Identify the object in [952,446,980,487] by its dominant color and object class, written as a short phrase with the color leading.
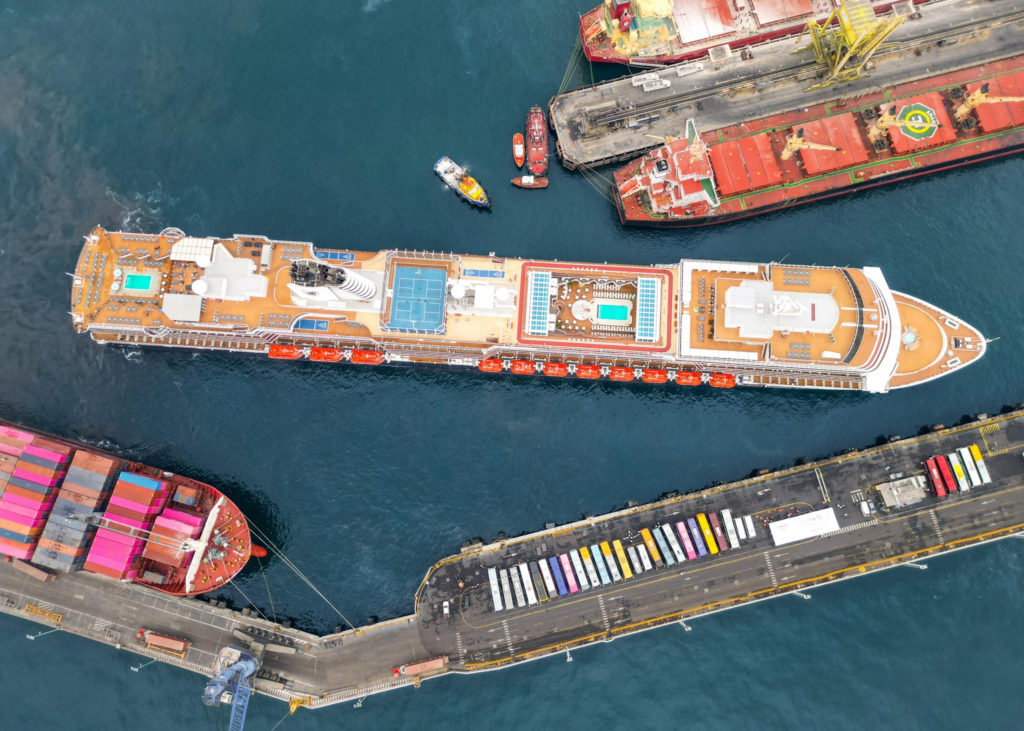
white bus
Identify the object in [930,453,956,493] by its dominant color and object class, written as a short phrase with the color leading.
red bus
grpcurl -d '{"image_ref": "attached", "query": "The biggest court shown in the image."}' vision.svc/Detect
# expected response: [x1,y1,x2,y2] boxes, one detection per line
[390,264,447,331]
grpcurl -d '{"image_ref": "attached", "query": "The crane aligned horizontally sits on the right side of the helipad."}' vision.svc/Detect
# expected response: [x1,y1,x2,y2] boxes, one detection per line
[946,94,1024,124]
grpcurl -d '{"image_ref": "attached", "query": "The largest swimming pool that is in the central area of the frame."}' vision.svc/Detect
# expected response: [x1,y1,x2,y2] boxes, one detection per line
[589,298,633,326]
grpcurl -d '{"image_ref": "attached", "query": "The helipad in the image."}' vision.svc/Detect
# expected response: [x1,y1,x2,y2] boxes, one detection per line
[897,100,939,143]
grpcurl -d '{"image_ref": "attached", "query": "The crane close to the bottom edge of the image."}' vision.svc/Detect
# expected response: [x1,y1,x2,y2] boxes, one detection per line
[201,626,307,731]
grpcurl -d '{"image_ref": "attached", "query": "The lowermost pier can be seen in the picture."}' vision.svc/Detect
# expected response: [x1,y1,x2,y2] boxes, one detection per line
[0,409,1024,709]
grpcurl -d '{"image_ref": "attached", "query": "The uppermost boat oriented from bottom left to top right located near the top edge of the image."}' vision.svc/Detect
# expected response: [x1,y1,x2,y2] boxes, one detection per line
[578,14,609,47]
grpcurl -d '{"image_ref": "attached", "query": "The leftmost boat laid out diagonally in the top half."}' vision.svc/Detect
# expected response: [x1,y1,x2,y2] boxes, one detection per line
[430,152,493,209]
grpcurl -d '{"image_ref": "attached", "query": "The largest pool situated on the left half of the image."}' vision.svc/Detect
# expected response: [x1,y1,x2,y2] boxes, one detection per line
[120,268,162,297]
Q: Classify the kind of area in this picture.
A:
port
